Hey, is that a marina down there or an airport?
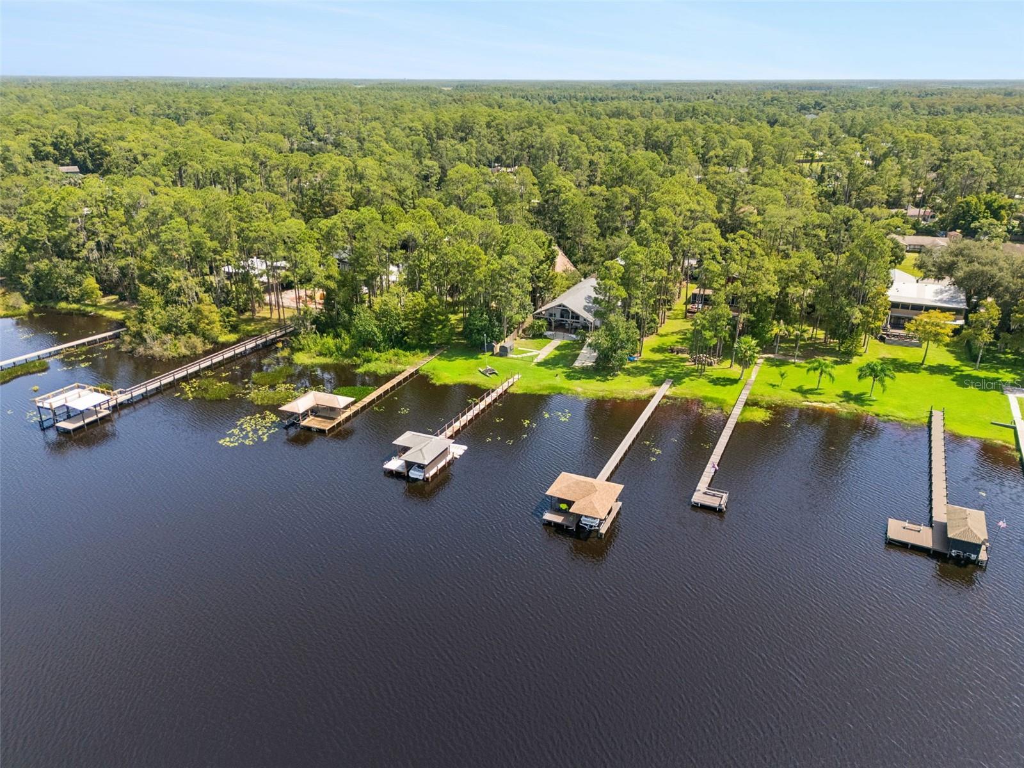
marina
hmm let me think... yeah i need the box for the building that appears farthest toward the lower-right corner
[886,504,989,567]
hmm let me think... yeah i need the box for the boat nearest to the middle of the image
[477,338,502,374]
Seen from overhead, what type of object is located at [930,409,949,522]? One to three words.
pier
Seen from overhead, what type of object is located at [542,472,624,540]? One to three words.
building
